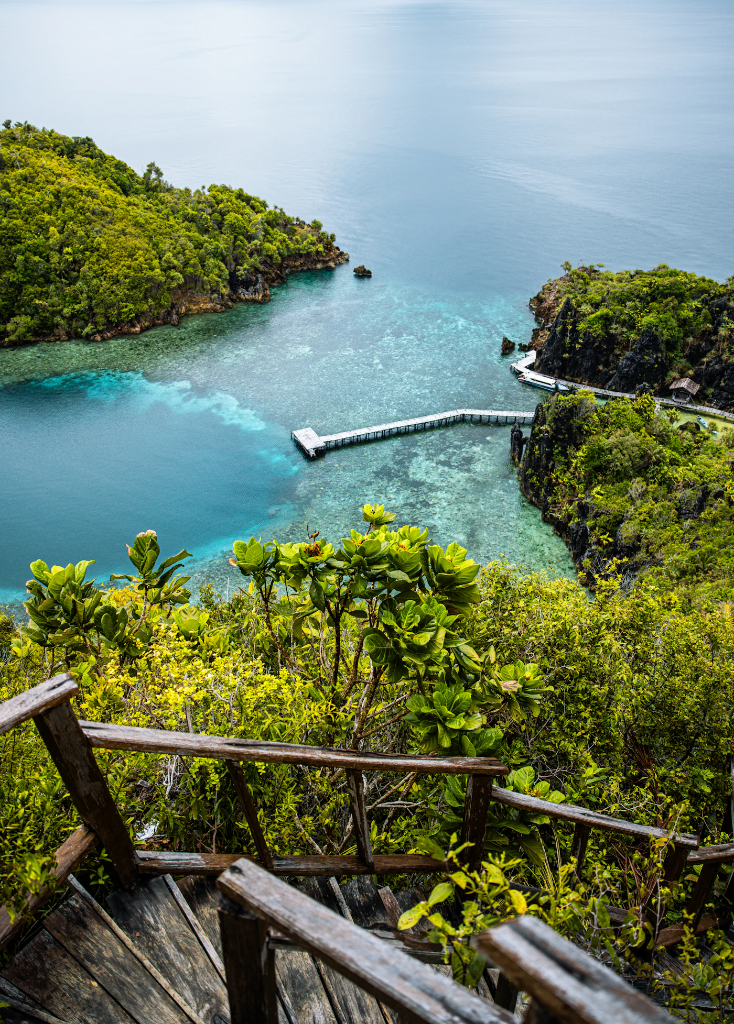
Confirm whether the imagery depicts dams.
No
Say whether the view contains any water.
Yes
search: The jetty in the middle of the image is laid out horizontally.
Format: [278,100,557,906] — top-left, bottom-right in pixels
[292,410,537,458]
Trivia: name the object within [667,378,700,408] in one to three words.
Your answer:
shed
